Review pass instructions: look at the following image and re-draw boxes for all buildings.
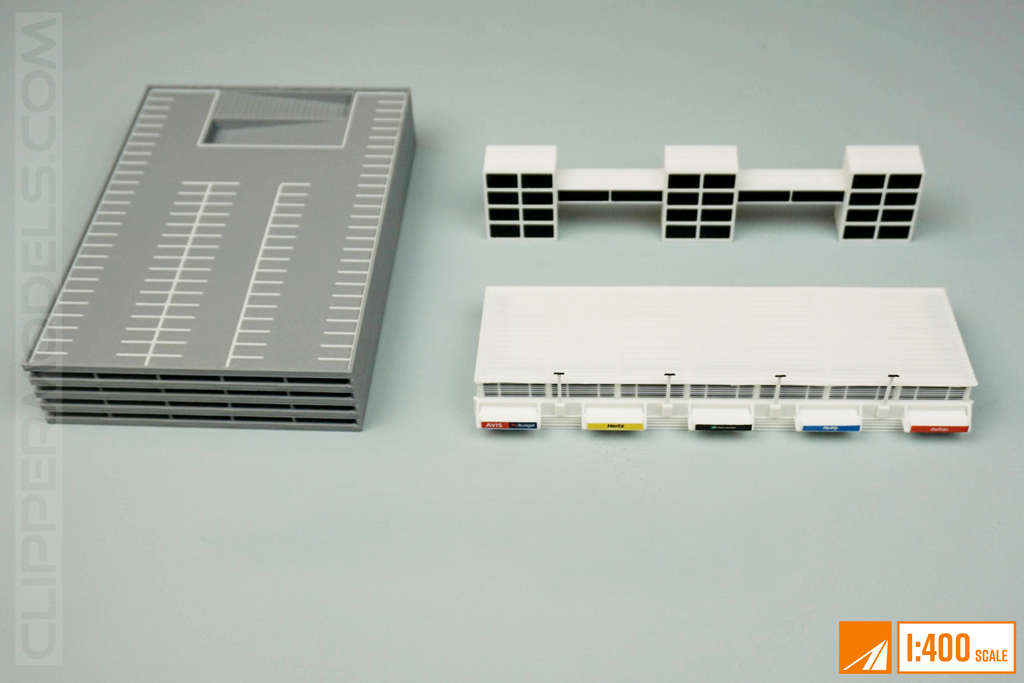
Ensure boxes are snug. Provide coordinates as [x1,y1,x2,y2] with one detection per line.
[483,145,925,241]
[23,85,416,430]
[473,287,978,433]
